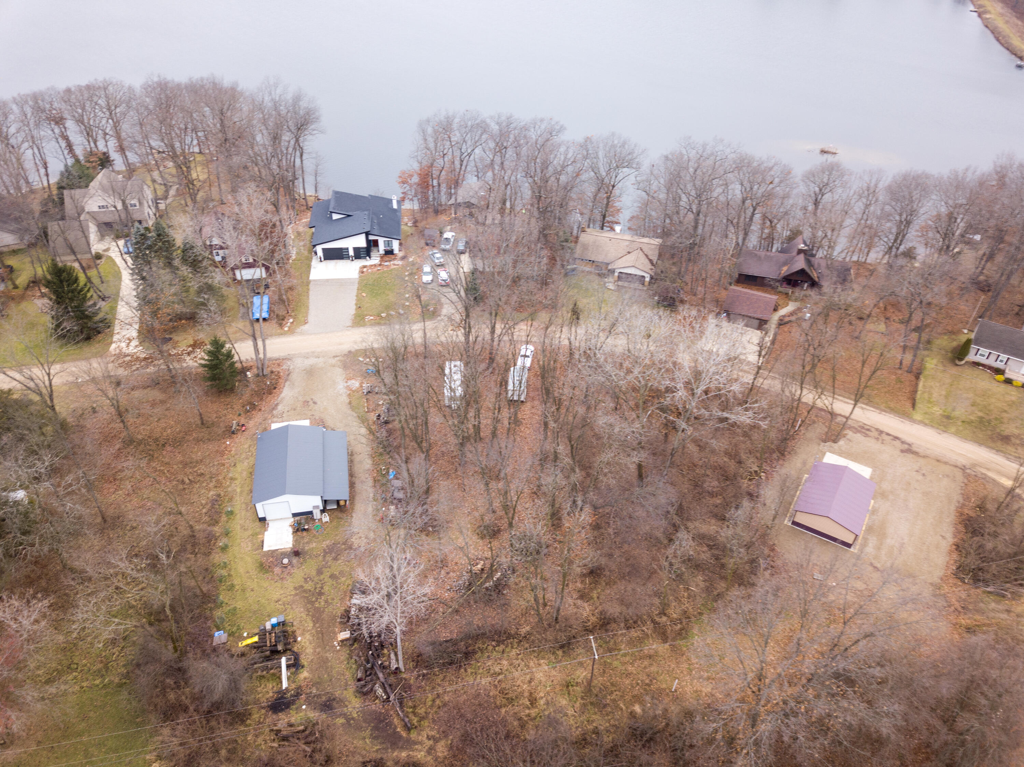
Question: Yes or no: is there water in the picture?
Yes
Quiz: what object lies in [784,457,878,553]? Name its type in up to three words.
barn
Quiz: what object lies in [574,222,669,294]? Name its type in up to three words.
house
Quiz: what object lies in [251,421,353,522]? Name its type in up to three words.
barn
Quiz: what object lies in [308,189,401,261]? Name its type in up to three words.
house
